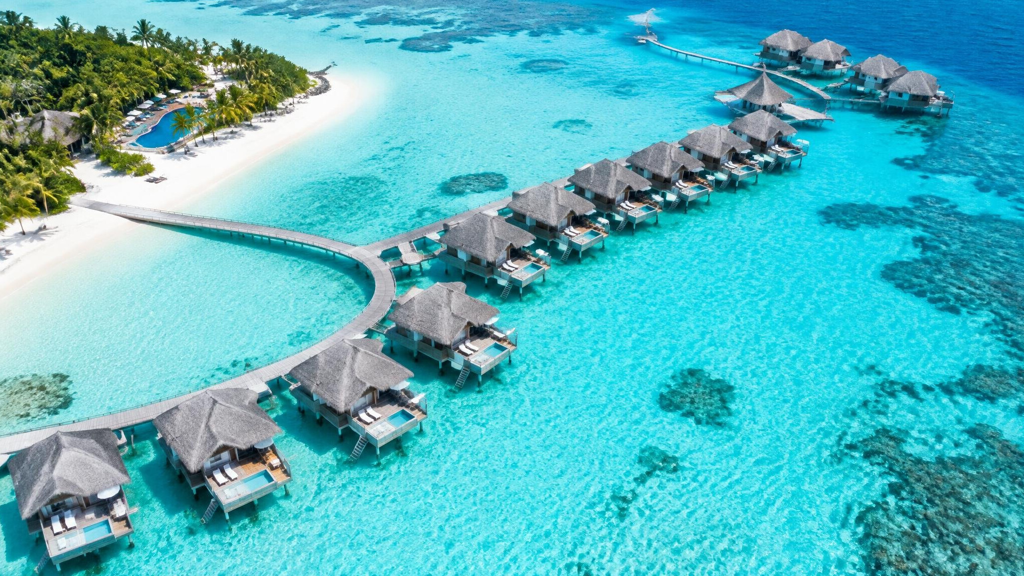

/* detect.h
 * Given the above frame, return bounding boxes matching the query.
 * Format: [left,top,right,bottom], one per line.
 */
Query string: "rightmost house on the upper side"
[871,66,959,130]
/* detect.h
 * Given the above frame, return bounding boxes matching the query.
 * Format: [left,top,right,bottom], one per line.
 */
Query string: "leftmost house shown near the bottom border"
[5,417,142,576]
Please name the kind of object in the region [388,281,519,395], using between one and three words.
house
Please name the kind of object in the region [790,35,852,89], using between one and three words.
house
